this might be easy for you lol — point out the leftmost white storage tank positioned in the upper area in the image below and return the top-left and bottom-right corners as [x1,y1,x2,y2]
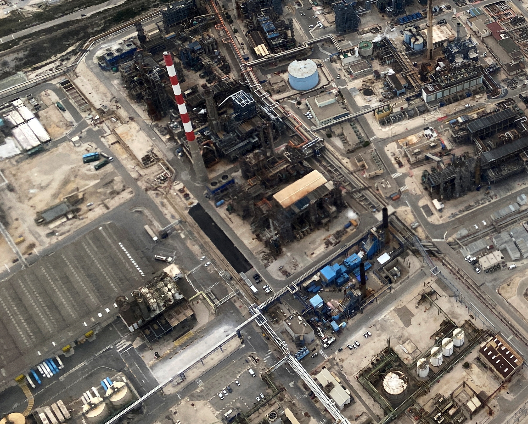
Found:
[286,58,322,93]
